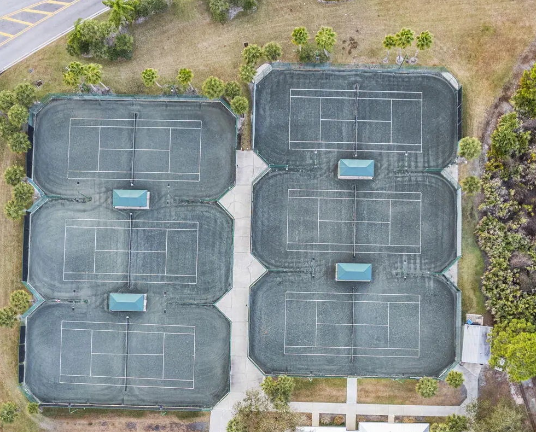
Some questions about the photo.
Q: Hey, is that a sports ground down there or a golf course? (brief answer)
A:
sports ground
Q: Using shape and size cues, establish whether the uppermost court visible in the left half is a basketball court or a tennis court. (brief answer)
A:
tennis court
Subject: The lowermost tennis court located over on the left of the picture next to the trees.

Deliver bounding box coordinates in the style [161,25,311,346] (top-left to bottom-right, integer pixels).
[25,301,231,408]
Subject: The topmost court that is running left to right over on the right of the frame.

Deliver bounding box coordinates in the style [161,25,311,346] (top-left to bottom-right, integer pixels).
[254,68,457,172]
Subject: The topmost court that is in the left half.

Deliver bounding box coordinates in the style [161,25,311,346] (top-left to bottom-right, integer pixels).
[34,100,236,200]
